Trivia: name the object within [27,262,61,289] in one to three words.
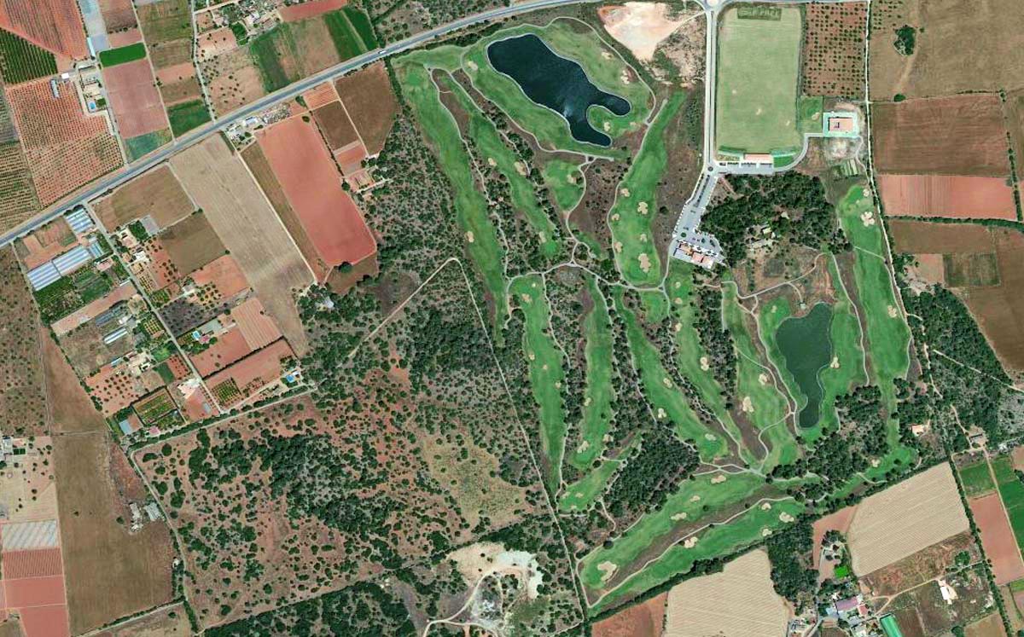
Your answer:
greenhouse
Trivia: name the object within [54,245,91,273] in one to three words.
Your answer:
greenhouse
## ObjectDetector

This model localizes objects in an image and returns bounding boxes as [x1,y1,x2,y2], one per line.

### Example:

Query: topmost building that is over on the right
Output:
[821,111,861,138]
